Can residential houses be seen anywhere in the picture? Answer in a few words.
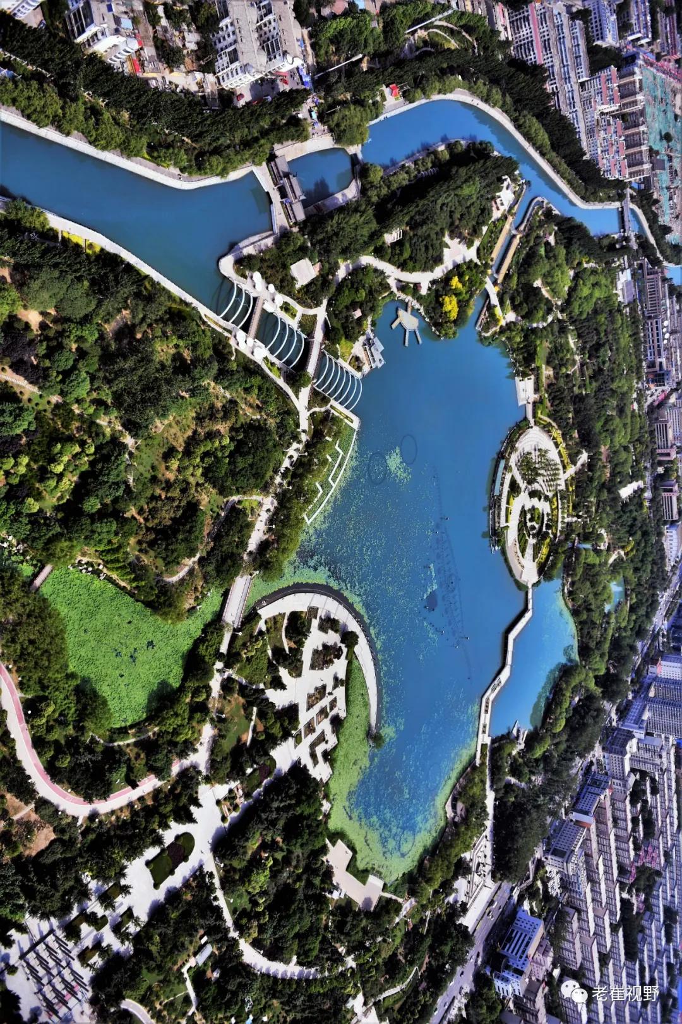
Yes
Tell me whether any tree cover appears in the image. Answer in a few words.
Yes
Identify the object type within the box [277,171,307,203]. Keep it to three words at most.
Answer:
house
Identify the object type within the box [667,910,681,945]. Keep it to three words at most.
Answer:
building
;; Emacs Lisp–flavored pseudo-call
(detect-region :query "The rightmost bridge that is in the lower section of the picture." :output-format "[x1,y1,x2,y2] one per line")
[477,585,535,763]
